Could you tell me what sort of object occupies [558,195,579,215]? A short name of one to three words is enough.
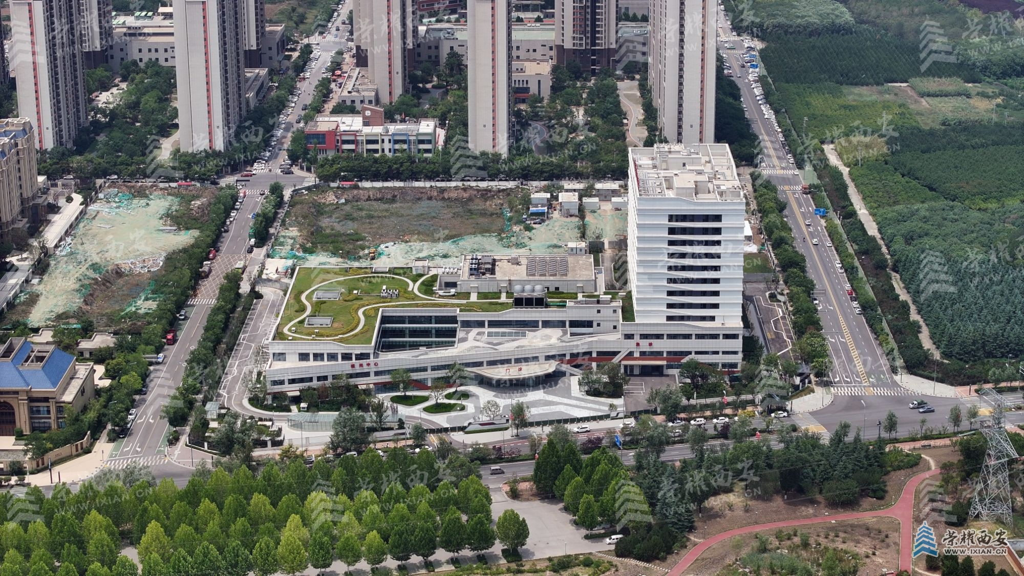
building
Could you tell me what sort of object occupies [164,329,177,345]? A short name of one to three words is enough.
vehicle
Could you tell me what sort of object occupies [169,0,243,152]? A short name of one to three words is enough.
building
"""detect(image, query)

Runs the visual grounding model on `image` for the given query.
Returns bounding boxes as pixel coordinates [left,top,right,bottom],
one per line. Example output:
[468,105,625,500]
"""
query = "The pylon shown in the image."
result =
[962,382,1024,522]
